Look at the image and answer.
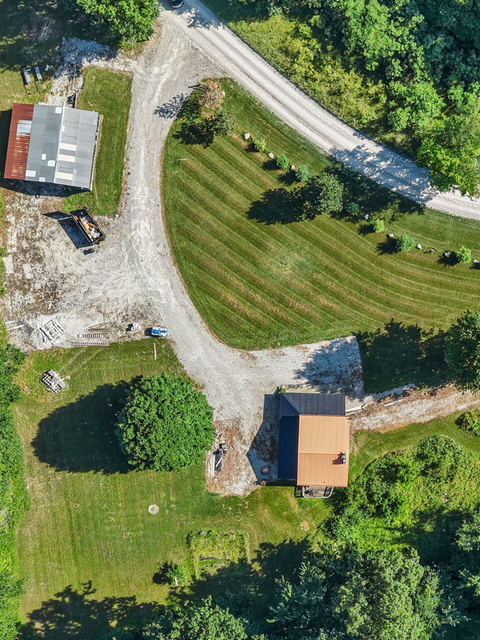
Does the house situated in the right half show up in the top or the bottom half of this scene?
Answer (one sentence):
It is in the bottom half that the house situated in the right half appears.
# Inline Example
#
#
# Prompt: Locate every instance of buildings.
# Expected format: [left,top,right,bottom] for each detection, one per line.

[5,103,102,190]
[277,392,349,487]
